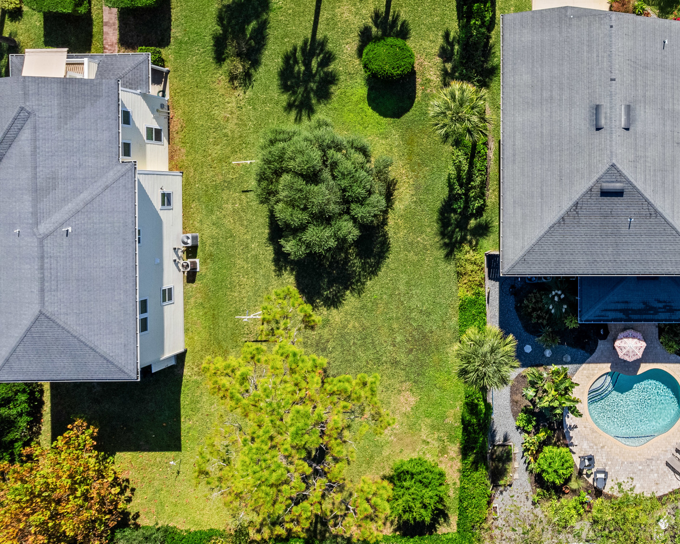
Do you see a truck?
No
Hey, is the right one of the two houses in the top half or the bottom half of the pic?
top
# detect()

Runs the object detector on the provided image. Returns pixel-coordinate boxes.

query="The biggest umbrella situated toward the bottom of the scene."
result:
[615,328,646,358]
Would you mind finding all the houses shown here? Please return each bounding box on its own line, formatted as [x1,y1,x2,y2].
[499,7,680,325]
[0,51,184,383]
